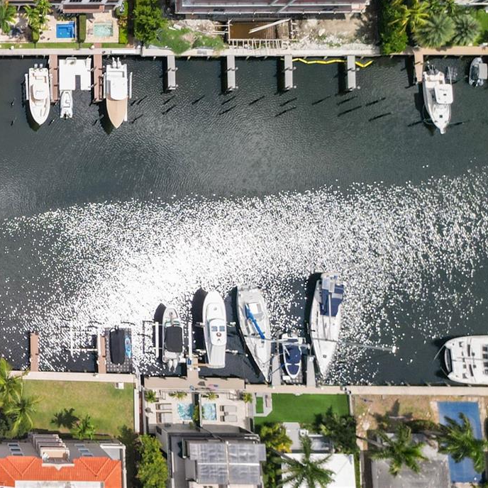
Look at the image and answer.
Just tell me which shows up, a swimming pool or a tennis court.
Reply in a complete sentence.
The image shows a swimming pool.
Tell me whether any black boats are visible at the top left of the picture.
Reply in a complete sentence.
No, no black boat appears at the top left of the picture.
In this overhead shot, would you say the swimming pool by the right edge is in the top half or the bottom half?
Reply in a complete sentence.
You can find the swimming pool by the right edge in the bottom half.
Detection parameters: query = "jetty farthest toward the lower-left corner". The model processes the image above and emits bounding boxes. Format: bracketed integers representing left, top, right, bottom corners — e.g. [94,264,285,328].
[28,333,40,373]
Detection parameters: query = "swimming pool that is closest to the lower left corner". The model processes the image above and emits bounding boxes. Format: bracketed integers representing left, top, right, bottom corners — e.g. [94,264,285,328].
[176,401,195,421]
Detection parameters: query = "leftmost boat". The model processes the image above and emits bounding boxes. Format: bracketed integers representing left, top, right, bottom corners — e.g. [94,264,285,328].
[29,63,50,125]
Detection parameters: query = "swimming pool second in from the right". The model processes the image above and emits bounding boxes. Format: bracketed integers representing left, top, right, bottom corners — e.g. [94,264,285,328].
[203,401,218,421]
